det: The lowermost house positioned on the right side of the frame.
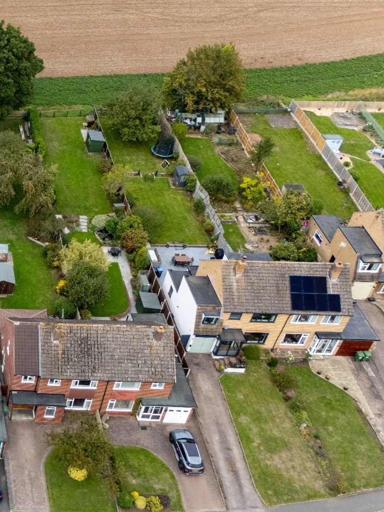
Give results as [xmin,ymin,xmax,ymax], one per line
[165,253,382,356]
